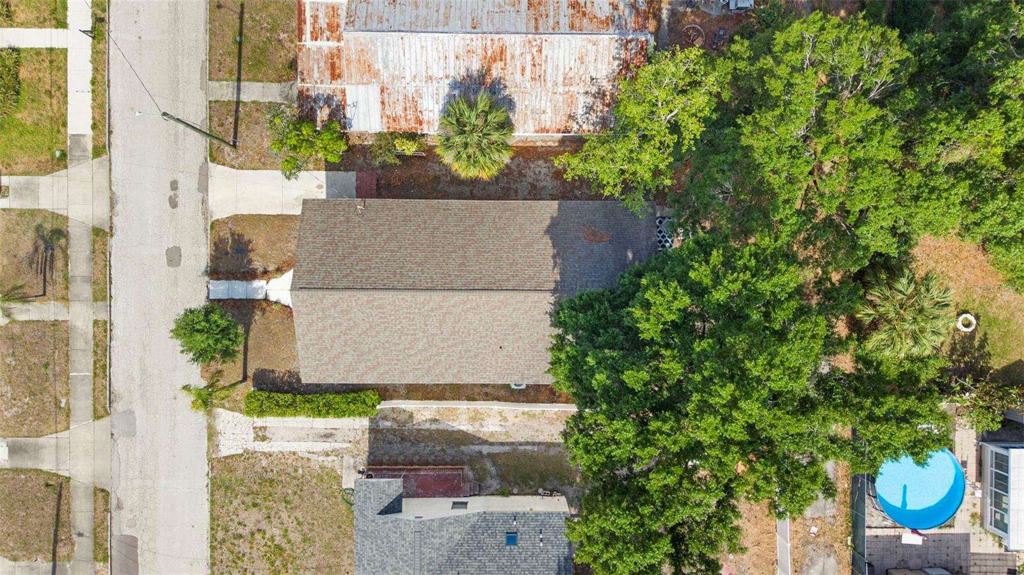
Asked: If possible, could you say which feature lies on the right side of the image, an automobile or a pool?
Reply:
pool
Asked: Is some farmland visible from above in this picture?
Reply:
No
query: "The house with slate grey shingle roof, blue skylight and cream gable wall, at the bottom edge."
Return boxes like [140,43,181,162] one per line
[354,466,570,575]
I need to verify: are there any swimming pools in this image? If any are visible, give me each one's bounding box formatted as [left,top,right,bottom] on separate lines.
[866,435,966,530]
